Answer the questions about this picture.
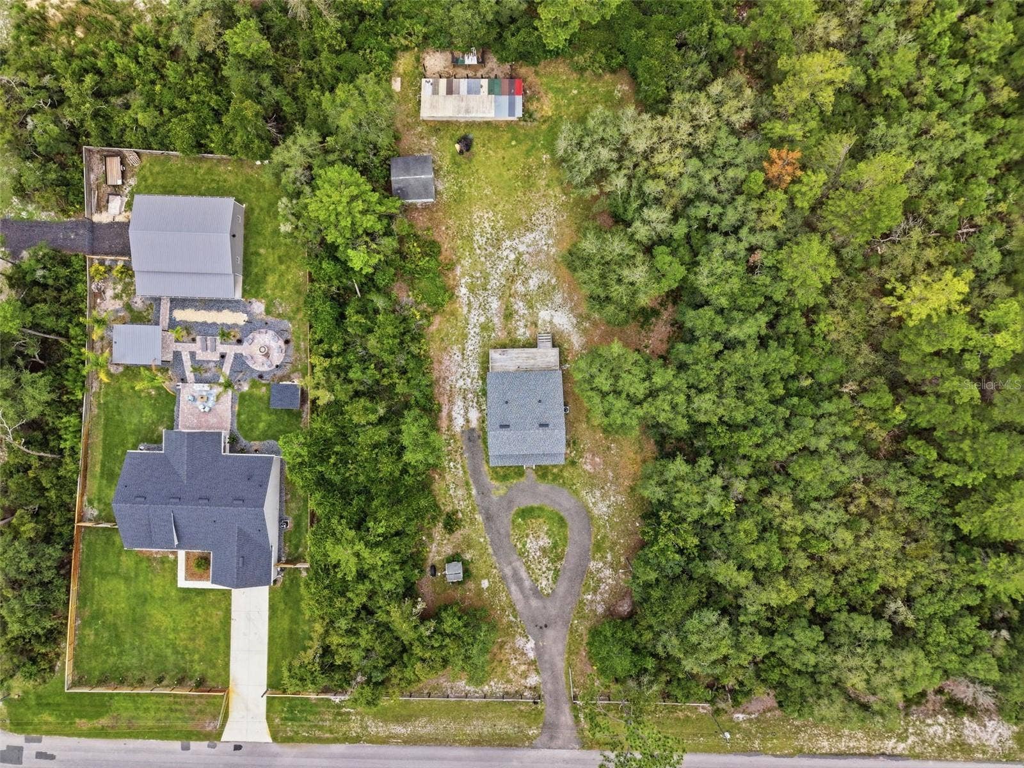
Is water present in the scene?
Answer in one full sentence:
No, no water is visible.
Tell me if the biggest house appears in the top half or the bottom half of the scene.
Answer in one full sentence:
The biggest house is in the bottom half of the image.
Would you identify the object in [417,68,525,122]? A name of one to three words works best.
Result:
barn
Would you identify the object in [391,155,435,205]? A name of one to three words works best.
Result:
shed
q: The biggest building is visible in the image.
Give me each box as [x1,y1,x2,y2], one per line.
[112,429,279,589]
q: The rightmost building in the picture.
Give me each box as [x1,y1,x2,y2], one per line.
[488,333,566,470]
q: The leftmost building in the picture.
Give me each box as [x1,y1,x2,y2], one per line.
[108,325,168,366]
